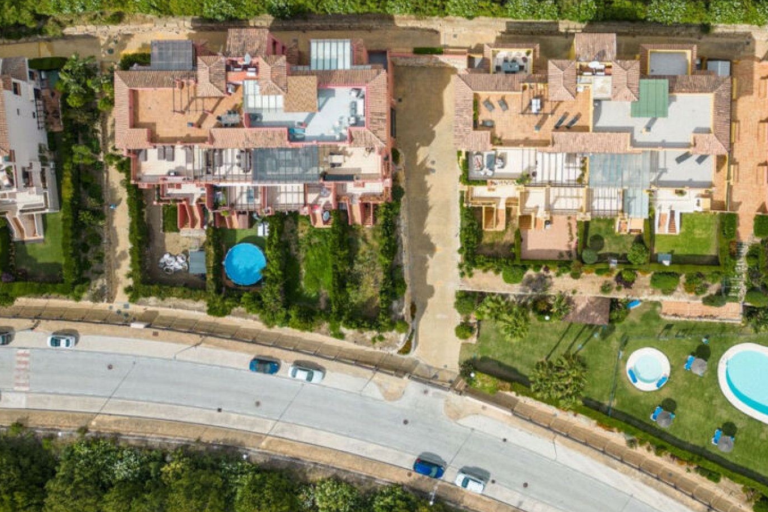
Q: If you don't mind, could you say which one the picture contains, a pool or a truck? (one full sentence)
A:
There is a pool in the scene.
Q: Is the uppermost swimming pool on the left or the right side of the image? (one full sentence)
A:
The uppermost swimming pool sits on the left side.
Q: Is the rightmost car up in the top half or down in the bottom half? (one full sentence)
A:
The rightmost car is in the bottom half of the image.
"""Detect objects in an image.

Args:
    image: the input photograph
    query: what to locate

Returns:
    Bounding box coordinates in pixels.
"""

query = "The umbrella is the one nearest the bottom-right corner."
[716,435,734,453]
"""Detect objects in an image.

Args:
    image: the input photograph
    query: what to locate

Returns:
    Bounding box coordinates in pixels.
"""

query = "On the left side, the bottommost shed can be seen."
[189,252,209,274]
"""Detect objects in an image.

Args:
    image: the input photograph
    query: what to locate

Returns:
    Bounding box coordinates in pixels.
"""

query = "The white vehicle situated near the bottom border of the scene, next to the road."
[454,470,488,492]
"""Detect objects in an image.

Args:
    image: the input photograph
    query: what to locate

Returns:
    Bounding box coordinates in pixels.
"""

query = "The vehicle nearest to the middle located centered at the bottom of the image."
[287,365,325,383]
